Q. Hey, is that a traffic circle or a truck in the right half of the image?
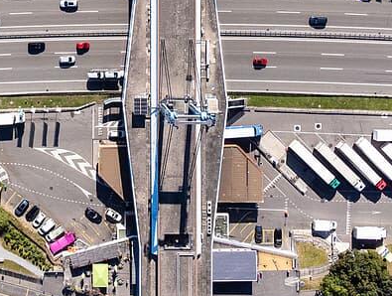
truck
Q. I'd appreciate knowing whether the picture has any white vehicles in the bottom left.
Yes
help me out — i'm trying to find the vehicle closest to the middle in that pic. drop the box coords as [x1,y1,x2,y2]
[225,125,262,138]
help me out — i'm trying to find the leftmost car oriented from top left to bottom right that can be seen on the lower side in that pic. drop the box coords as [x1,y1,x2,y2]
[84,208,102,223]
